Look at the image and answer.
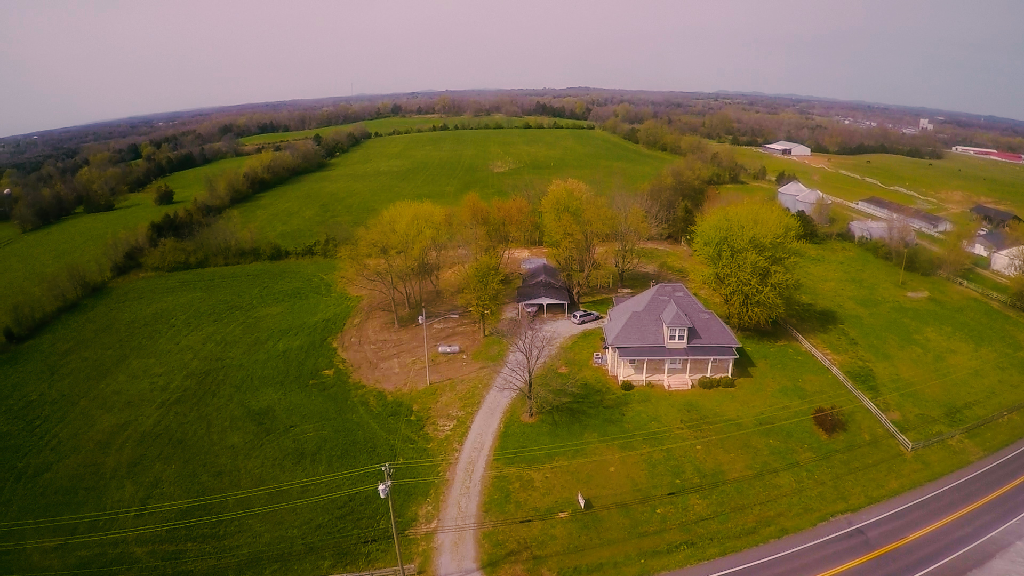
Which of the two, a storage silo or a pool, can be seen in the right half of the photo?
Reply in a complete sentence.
It is a storage silo that can be seen in the right half of the photo.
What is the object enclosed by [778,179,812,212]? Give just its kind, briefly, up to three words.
silo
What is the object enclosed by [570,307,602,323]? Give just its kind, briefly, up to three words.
car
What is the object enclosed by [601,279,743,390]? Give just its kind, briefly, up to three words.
house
